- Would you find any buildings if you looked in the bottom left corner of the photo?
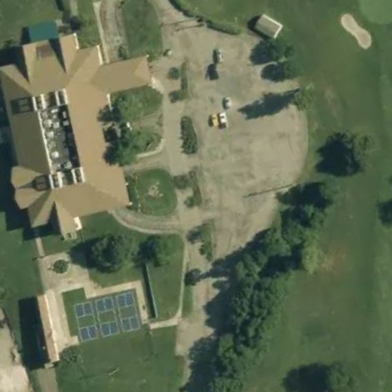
Yes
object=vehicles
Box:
[220,113,226,128]
[225,96,230,110]
[210,66,216,80]
[216,48,223,62]
[211,113,218,127]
